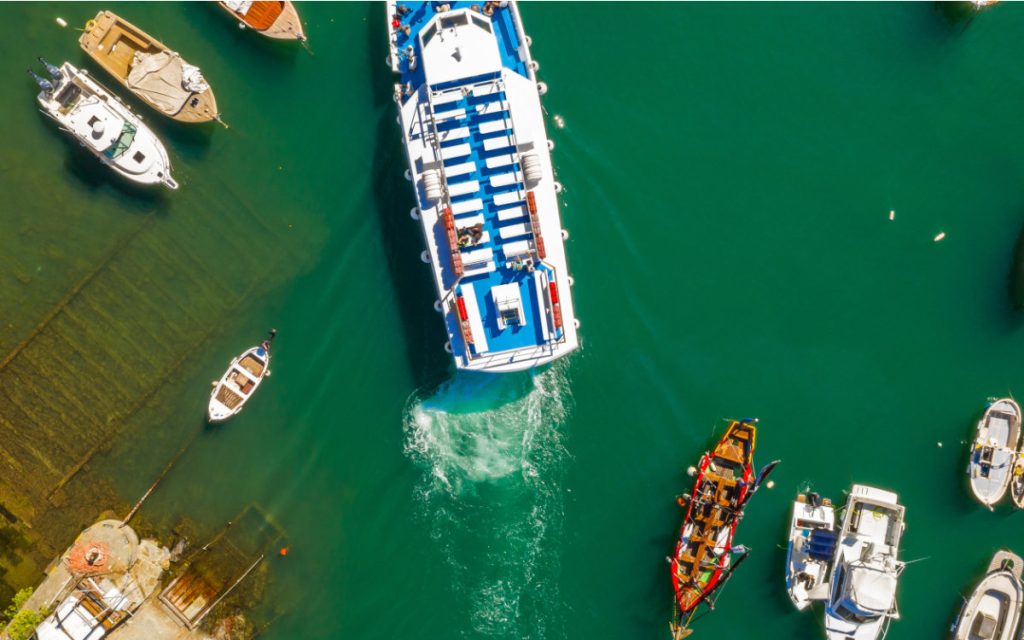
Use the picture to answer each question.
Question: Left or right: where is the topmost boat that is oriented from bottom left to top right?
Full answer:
You can find the topmost boat that is oriented from bottom left to top right on the left side of the picture.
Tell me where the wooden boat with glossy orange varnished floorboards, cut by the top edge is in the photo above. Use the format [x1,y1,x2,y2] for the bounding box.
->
[216,0,312,55]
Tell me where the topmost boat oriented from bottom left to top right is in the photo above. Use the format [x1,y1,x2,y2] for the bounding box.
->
[208,332,275,423]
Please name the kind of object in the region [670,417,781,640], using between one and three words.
boat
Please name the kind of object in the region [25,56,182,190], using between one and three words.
boat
